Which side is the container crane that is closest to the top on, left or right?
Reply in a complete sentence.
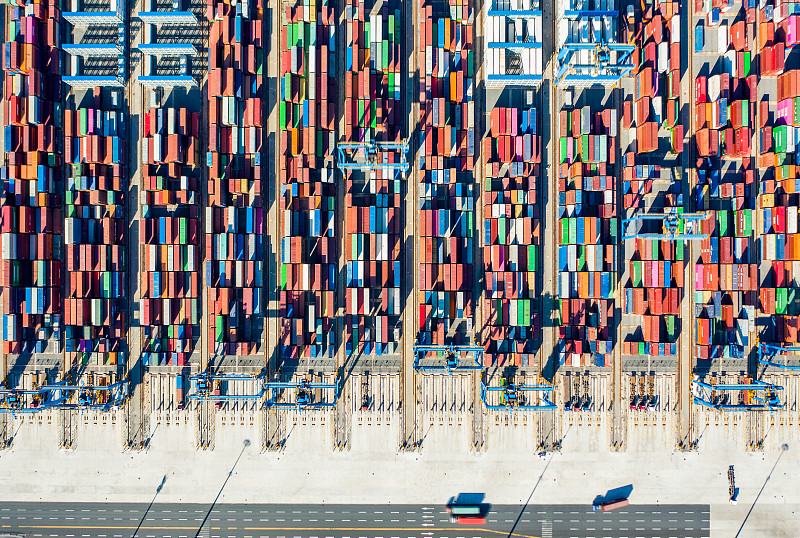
You can find the container crane that is closest to the top on the right side of the picture.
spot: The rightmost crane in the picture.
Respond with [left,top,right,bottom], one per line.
[755,334,800,371]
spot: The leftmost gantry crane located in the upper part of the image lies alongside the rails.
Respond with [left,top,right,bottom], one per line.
[338,137,410,182]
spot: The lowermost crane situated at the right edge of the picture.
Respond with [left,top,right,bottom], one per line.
[690,370,783,416]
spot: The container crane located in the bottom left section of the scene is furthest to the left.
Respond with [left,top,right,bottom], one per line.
[0,370,66,416]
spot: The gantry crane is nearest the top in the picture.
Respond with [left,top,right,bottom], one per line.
[551,37,631,88]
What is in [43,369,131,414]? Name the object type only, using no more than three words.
container crane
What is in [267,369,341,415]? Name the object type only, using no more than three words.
container crane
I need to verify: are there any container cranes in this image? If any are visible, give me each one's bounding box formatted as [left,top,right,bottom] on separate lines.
[616,208,703,248]
[755,334,800,371]
[191,362,270,407]
[480,371,558,417]
[413,333,487,376]
[338,137,410,182]
[43,369,131,414]
[0,370,66,416]
[267,369,341,415]
[690,370,783,416]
